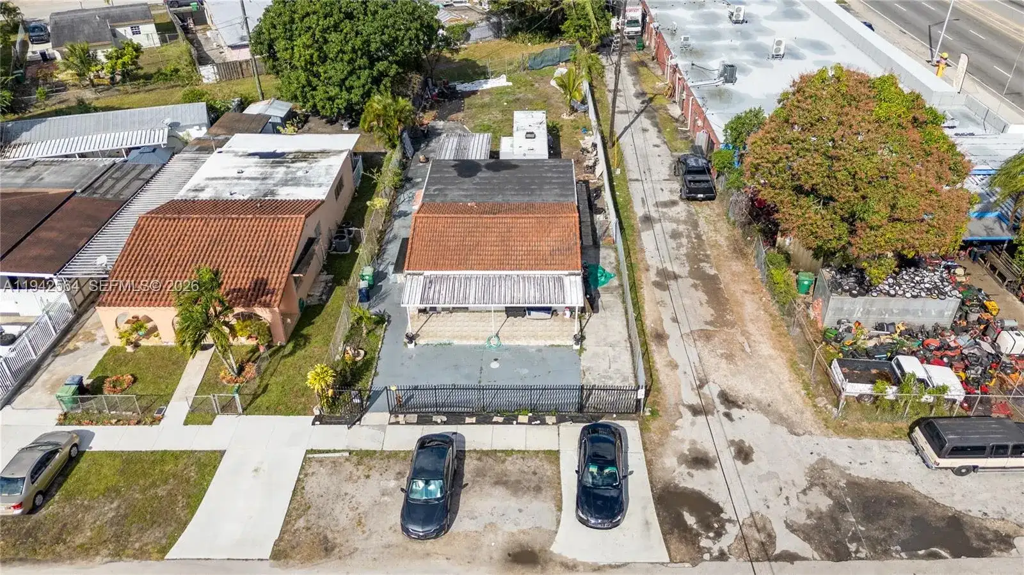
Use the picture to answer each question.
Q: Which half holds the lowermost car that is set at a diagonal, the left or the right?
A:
left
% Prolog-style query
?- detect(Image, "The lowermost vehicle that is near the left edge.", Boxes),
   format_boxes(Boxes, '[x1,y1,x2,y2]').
[0,429,73,516]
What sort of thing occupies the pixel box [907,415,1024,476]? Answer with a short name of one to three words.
car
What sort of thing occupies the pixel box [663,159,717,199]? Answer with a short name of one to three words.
truck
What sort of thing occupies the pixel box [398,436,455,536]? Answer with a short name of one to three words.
car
